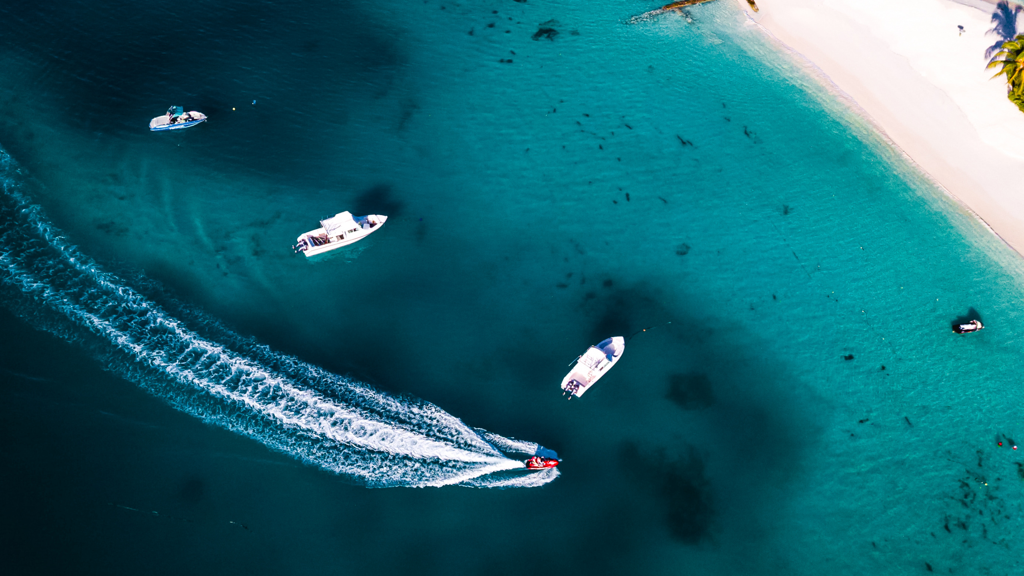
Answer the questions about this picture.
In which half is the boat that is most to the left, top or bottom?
top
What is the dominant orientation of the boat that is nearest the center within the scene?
on a diagonal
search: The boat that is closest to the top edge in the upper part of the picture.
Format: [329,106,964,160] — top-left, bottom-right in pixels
[146,104,208,132]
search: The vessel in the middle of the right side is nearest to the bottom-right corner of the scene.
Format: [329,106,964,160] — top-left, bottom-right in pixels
[951,319,984,333]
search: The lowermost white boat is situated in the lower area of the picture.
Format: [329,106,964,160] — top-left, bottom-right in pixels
[560,338,625,404]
